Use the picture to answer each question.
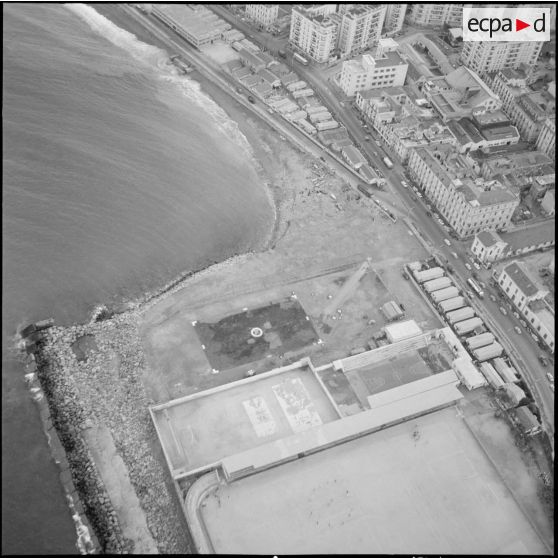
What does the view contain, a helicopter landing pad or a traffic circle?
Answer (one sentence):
Visible in the photo is a helicopter landing pad.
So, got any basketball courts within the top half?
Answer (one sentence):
No, looking within the top half, there is no basketball court.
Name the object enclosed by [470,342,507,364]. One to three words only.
shed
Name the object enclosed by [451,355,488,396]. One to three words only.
building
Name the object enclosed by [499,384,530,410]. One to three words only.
shed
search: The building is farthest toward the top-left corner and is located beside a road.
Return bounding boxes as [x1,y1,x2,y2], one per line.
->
[140,0,232,48]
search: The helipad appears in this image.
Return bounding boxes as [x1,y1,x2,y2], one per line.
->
[195,298,319,371]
